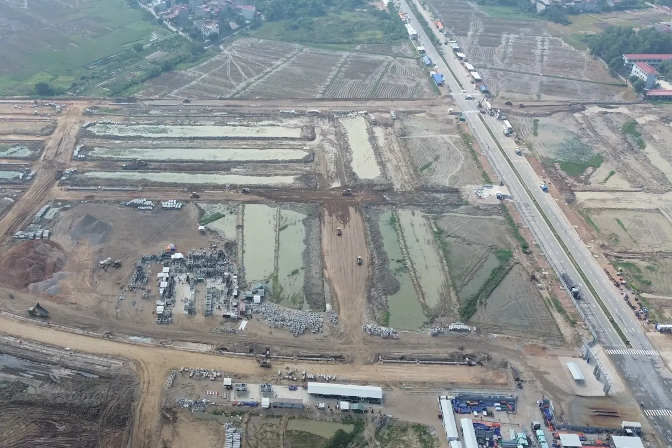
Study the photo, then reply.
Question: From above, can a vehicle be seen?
Yes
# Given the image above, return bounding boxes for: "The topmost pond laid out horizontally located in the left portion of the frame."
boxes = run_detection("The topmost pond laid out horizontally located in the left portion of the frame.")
[89,124,303,138]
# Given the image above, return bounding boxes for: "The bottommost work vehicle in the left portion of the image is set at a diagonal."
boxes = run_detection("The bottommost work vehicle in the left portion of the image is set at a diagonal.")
[256,347,271,367]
